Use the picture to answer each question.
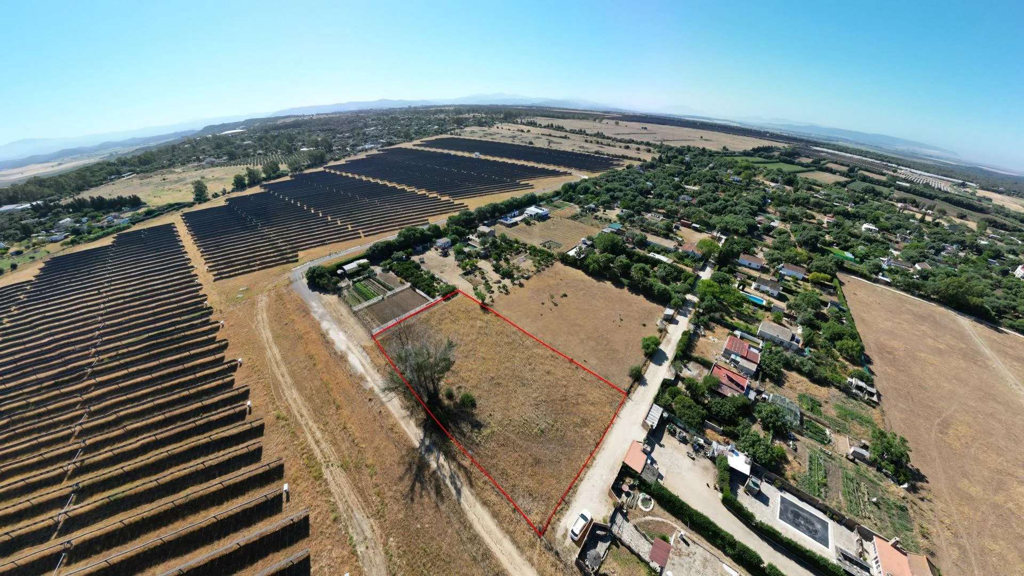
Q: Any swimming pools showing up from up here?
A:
Yes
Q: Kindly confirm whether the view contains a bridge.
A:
No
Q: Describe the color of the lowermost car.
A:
white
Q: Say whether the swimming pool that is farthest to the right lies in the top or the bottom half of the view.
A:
bottom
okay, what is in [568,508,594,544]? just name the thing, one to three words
car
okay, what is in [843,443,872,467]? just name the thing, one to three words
shed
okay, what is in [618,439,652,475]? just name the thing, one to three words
shed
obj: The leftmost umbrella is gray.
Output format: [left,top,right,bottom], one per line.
[581,545,609,576]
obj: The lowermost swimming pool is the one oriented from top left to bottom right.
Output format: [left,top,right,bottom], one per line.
[777,491,832,553]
